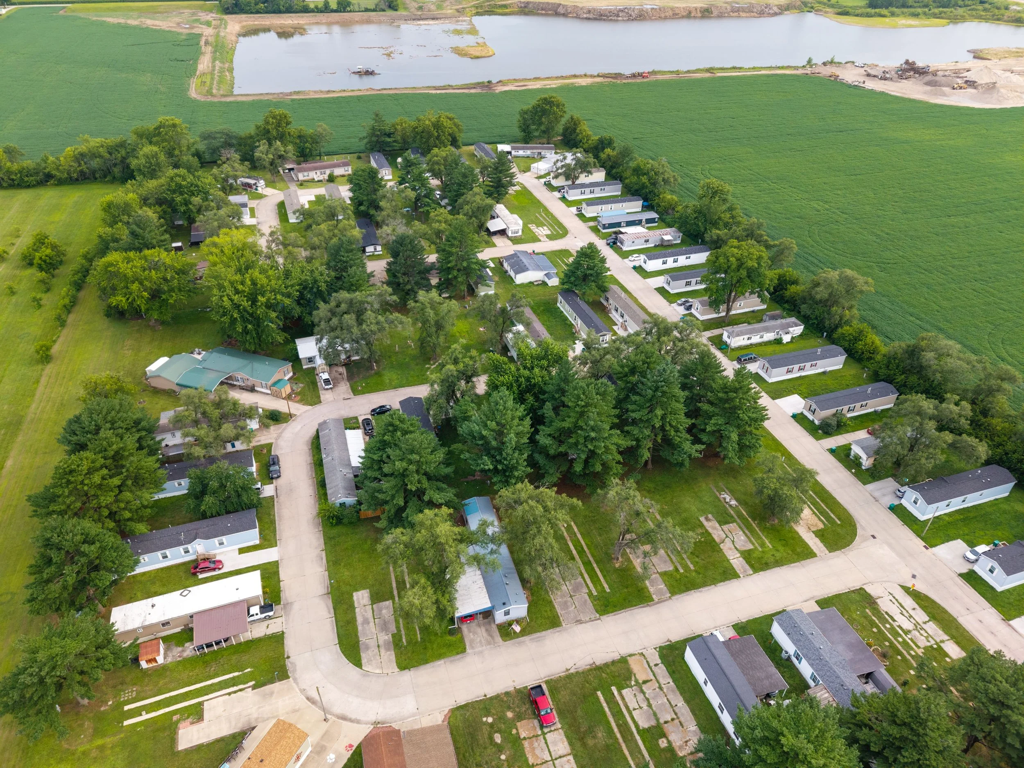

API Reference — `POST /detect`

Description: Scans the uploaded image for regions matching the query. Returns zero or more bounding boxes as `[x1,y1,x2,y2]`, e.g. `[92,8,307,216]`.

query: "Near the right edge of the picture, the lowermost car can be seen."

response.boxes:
[964,540,991,566]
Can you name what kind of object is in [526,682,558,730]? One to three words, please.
truck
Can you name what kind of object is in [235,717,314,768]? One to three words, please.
shed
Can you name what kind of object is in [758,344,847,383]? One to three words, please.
house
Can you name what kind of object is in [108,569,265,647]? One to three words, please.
house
